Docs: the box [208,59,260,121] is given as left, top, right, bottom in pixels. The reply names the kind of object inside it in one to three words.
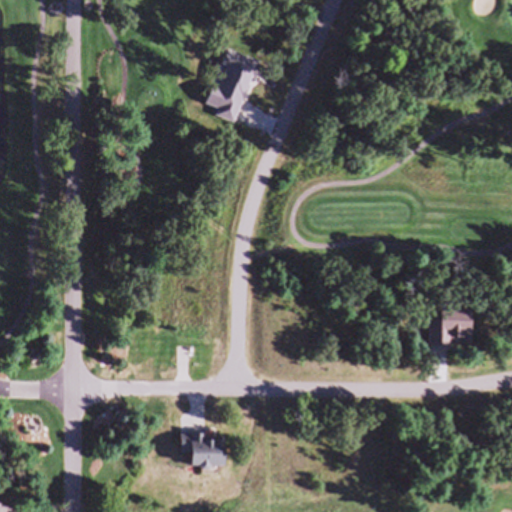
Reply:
house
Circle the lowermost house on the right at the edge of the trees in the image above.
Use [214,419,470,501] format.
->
[442,311,475,345]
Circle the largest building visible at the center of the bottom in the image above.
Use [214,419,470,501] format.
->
[181,432,226,470]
